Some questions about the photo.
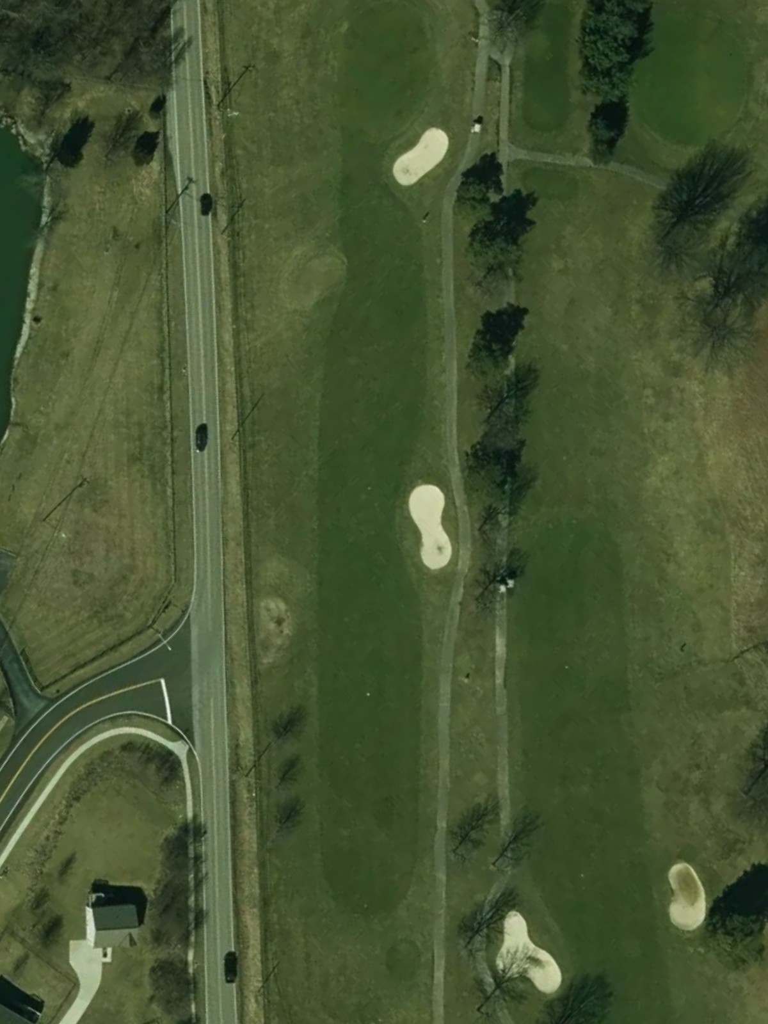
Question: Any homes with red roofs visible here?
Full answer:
No, there isn't any home with a red roof down there.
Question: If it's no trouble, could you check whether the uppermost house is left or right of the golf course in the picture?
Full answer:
In the image, the uppermost house sits on the left side of the golf course.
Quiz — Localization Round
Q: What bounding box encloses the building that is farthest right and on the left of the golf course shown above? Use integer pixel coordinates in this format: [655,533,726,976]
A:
[86,893,139,951]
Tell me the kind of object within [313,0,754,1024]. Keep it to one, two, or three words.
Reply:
golf course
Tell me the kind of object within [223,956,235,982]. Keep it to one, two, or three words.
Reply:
vehicle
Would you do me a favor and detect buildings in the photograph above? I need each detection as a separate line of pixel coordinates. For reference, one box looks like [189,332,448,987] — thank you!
[86,893,139,951]
[0,1001,37,1024]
